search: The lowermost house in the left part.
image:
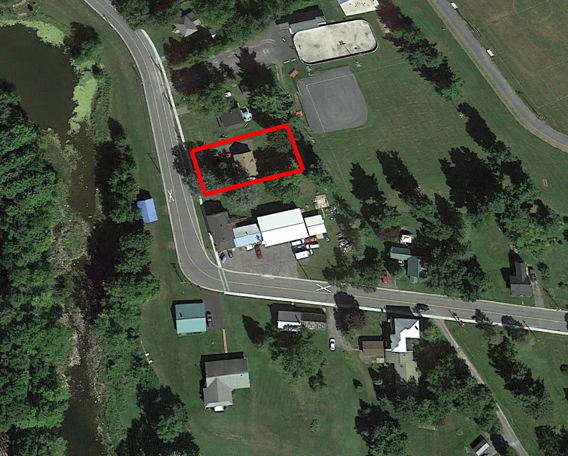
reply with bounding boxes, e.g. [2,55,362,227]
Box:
[204,356,250,411]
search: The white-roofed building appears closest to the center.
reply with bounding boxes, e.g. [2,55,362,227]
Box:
[258,208,308,247]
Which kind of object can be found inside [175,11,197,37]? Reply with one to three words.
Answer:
house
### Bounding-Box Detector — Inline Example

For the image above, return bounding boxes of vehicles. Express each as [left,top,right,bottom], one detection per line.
[305,243,320,249]
[529,268,536,282]
[296,251,313,259]
[254,245,263,259]
[330,338,335,350]
[416,305,429,310]
[228,249,233,260]
[292,239,304,246]
[218,252,227,264]
[244,243,255,250]
[207,314,212,325]
[293,244,305,251]
[303,237,318,243]
[323,233,331,243]
[383,271,388,283]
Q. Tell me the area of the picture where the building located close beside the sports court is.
top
